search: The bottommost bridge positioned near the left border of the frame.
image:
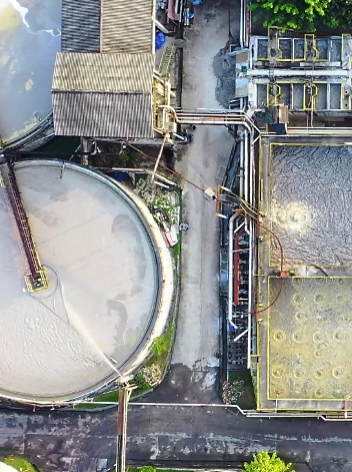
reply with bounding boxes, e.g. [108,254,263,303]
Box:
[0,160,50,292]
